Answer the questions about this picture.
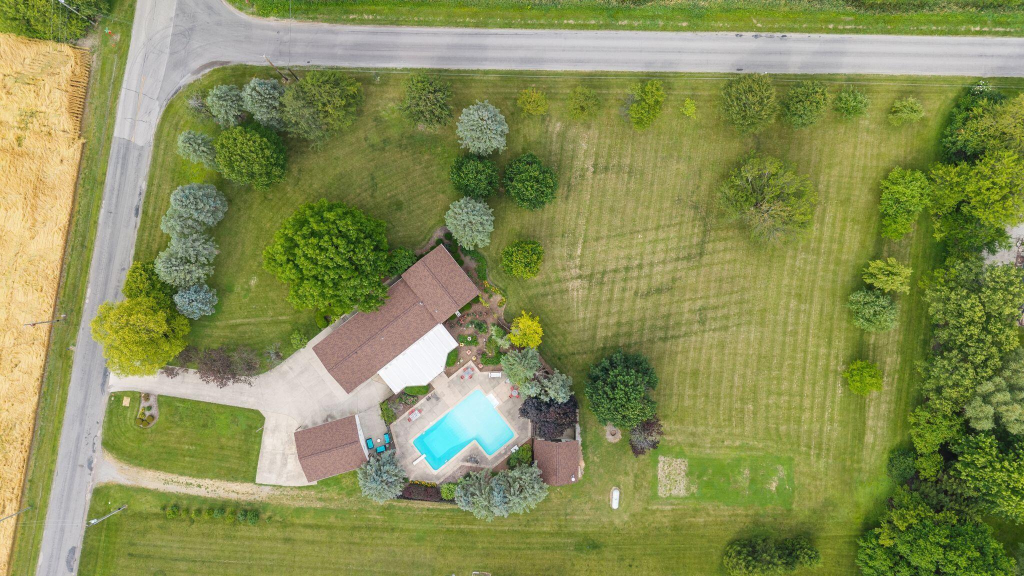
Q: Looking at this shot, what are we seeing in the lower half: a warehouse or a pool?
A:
pool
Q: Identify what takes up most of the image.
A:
grass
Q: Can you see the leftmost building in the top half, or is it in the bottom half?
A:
bottom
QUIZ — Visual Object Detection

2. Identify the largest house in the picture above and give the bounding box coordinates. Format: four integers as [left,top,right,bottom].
[313,244,480,394]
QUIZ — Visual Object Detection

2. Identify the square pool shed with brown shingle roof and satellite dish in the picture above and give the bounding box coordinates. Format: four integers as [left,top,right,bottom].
[534,437,581,486]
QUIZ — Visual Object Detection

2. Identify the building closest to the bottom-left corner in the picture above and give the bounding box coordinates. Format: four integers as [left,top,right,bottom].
[295,413,371,484]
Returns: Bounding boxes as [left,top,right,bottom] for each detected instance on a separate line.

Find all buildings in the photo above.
[534,437,581,486]
[295,413,371,484]
[313,244,480,394]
